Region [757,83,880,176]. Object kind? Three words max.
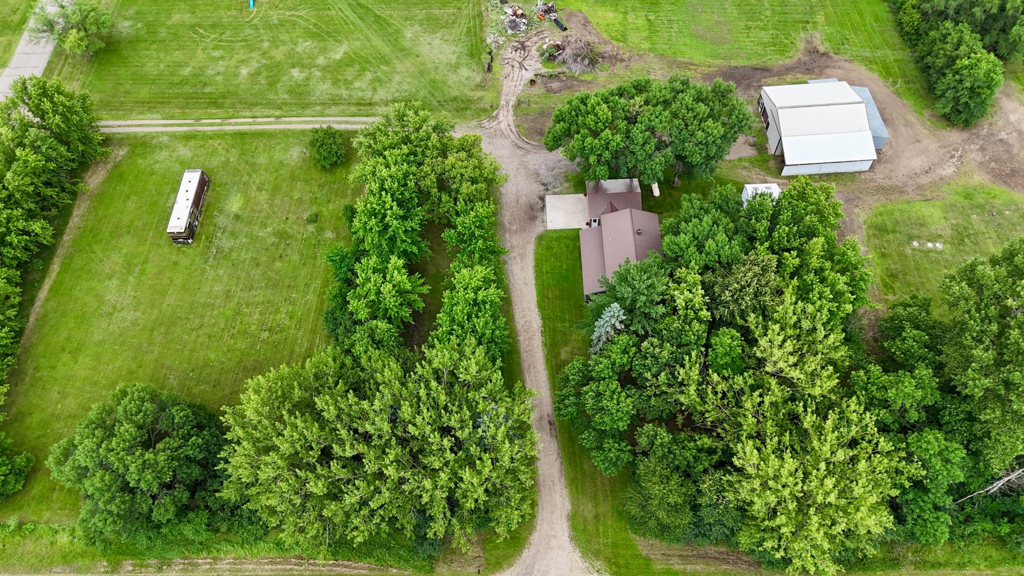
barn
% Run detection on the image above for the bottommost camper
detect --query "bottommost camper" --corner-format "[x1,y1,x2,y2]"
[167,170,210,247]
